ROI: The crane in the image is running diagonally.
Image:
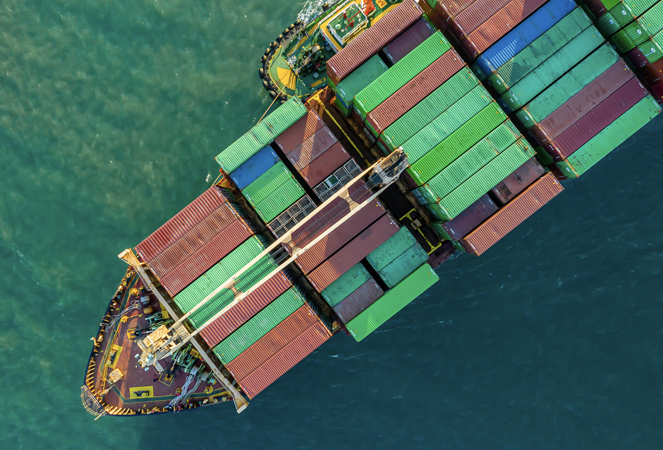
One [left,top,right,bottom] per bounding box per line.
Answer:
[128,148,410,377]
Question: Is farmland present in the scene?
No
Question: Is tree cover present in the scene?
No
